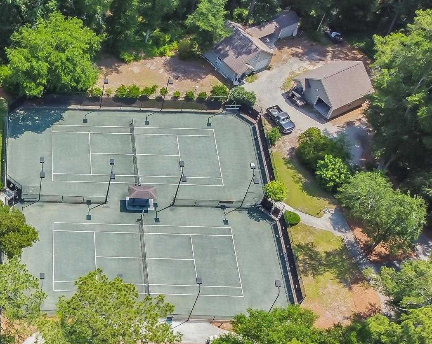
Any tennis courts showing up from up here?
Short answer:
Yes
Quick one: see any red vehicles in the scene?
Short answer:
No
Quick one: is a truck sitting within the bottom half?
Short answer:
No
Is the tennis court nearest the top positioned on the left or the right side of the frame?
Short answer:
left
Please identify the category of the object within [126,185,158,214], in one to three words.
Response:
building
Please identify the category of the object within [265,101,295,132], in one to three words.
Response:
truck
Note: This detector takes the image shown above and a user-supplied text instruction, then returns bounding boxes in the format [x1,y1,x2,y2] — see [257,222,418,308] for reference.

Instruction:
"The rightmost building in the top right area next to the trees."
[287,58,377,120]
